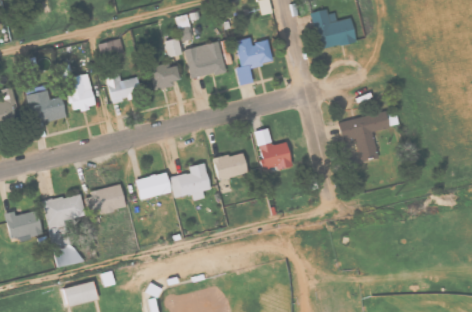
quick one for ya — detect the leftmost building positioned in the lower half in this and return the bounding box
[4,211,41,240]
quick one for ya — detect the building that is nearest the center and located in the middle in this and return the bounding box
[212,152,248,180]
